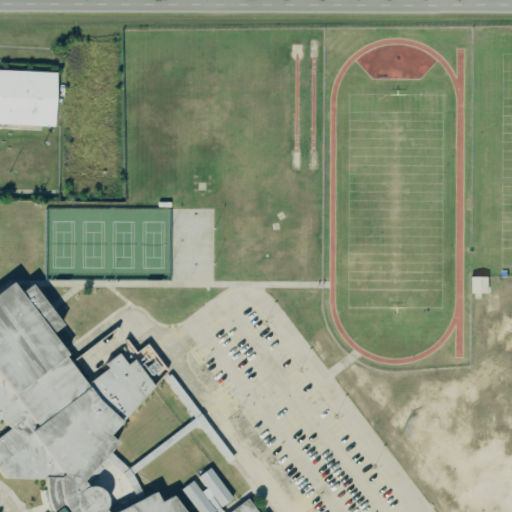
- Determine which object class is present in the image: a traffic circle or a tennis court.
tennis court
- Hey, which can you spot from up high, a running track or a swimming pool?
running track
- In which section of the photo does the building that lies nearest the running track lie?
right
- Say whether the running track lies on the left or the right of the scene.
right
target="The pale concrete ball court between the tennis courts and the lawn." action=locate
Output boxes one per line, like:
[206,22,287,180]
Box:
[172,208,214,281]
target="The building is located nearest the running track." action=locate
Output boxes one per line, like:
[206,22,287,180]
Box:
[470,276,492,299]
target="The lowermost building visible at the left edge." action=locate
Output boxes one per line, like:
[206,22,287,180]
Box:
[0,282,156,512]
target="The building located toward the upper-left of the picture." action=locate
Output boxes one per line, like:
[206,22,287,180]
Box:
[0,70,60,128]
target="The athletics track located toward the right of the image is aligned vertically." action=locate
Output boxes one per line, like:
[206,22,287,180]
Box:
[330,38,464,365]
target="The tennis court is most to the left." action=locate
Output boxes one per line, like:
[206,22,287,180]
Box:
[48,208,79,278]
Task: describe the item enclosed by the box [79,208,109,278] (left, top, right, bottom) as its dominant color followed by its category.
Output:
green tennis court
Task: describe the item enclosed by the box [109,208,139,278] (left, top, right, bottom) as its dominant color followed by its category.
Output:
green tennis court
